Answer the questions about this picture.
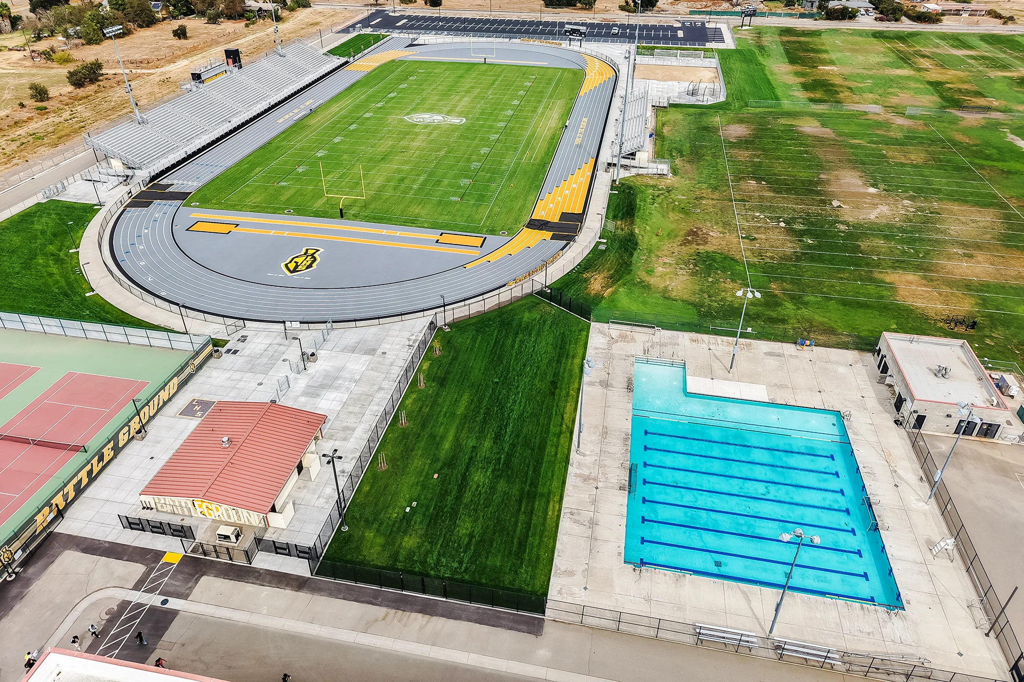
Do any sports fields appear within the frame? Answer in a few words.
Yes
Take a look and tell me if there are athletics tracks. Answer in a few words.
Yes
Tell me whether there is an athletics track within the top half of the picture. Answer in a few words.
Yes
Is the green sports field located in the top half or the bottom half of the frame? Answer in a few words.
top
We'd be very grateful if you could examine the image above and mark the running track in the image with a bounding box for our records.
[108,37,617,326]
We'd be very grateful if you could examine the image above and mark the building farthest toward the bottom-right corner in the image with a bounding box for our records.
[875,332,1015,441]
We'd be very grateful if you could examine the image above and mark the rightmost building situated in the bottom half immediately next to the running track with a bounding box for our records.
[139,399,327,533]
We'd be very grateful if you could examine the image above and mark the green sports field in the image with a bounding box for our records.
[182,59,583,237]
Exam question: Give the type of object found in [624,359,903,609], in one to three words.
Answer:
swimming pool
